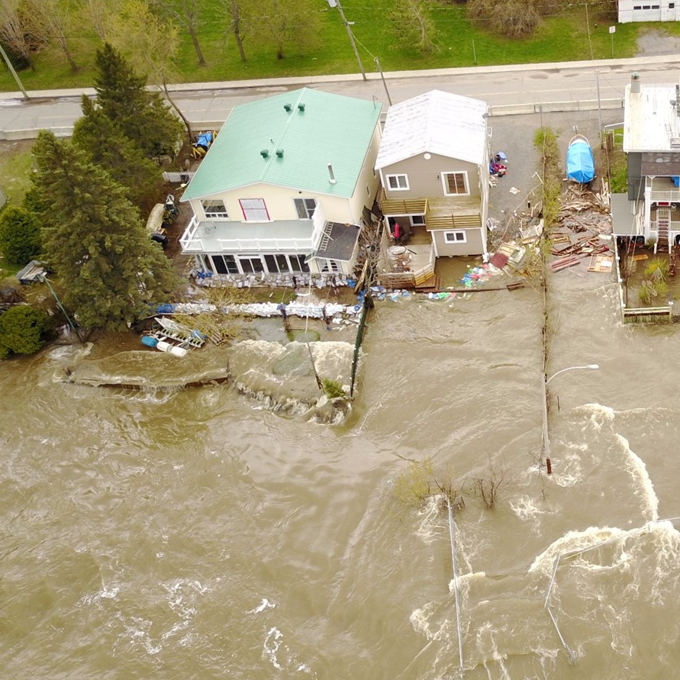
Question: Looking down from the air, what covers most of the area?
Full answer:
For the most part, this view shows water.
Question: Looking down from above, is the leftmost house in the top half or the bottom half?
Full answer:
The leftmost house is in the top half of the image.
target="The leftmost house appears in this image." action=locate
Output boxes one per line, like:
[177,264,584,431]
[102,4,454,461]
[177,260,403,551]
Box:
[174,88,388,280]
